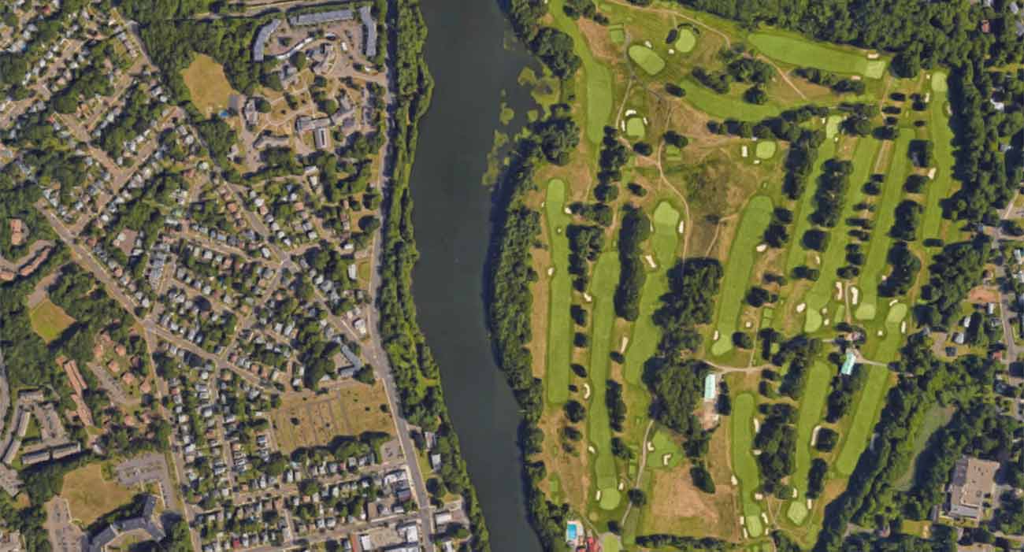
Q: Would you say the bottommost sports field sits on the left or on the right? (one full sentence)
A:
The bottommost sports field is on the left side of the image.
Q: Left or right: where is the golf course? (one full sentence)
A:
It is on the right.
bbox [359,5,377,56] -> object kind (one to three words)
building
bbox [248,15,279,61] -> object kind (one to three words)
building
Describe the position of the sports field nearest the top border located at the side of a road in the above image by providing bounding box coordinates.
[181,53,232,118]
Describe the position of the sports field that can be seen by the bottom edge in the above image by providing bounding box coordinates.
[60,465,141,526]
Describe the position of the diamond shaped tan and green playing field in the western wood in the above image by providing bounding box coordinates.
[30,299,76,344]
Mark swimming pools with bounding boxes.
[566,521,584,551]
